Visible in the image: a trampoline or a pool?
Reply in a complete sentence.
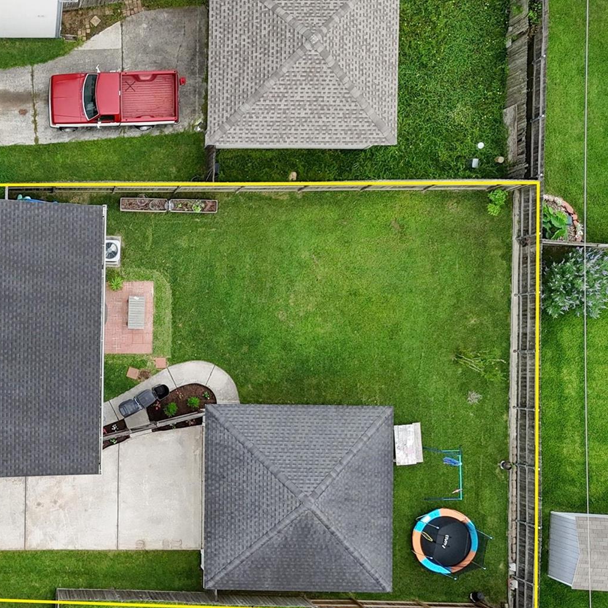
The image shows a trampoline.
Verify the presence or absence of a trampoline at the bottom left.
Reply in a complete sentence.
No, I see no trampoline at the bottom left.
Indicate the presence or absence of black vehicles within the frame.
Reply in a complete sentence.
No, the scene contains no black vehicle.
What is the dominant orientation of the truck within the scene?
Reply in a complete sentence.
Seen from above, the truck lies horizontally.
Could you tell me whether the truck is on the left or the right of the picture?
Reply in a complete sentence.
The truck is on the left side of the image.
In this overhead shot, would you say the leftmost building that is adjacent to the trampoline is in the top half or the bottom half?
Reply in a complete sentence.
You can find the leftmost building that is adjacent to the trampoline in the bottom half.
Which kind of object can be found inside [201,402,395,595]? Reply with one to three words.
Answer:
building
